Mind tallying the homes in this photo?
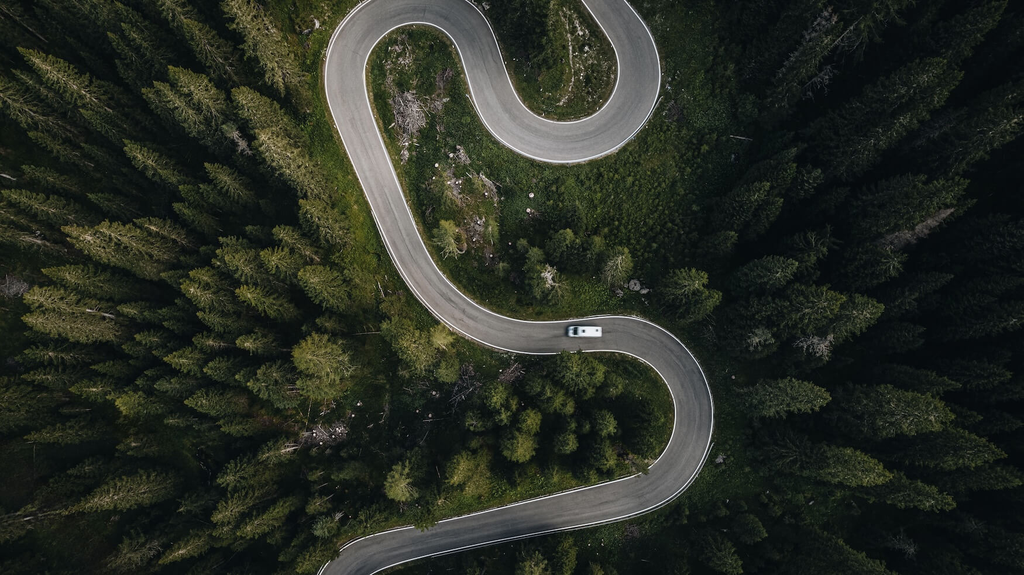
0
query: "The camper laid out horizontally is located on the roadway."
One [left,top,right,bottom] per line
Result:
[566,325,602,339]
